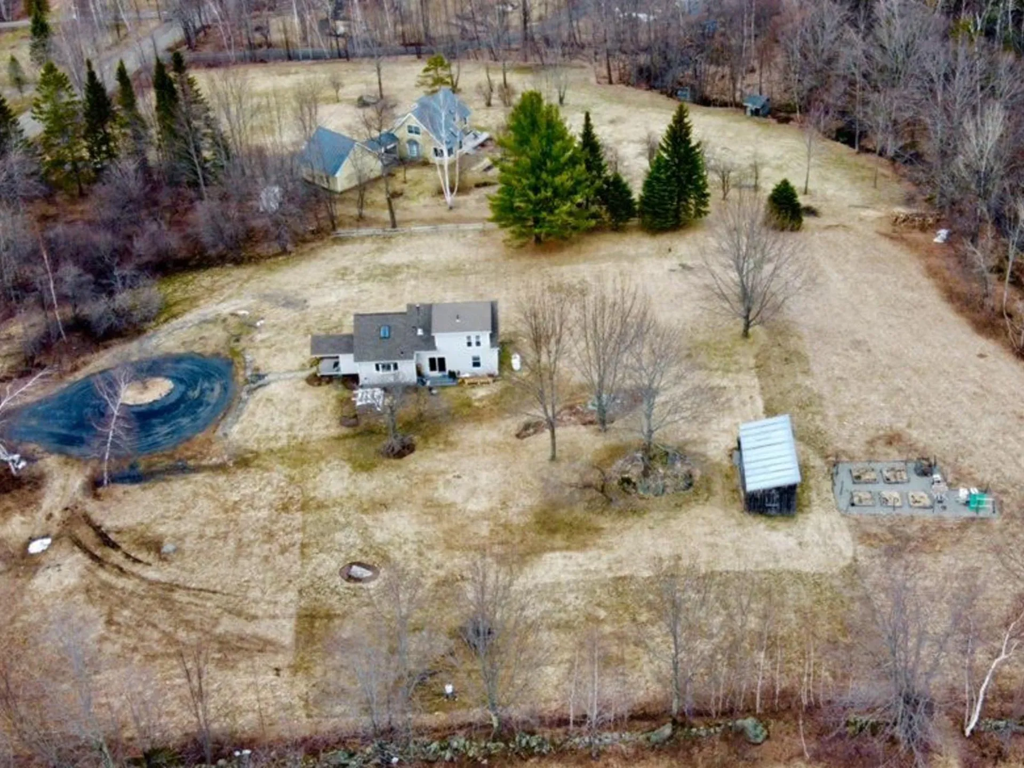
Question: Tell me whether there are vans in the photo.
No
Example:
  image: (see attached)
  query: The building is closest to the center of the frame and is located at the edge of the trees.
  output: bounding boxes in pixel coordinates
[310,300,499,390]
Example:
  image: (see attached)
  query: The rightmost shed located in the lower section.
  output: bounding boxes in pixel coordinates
[740,418,804,514]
